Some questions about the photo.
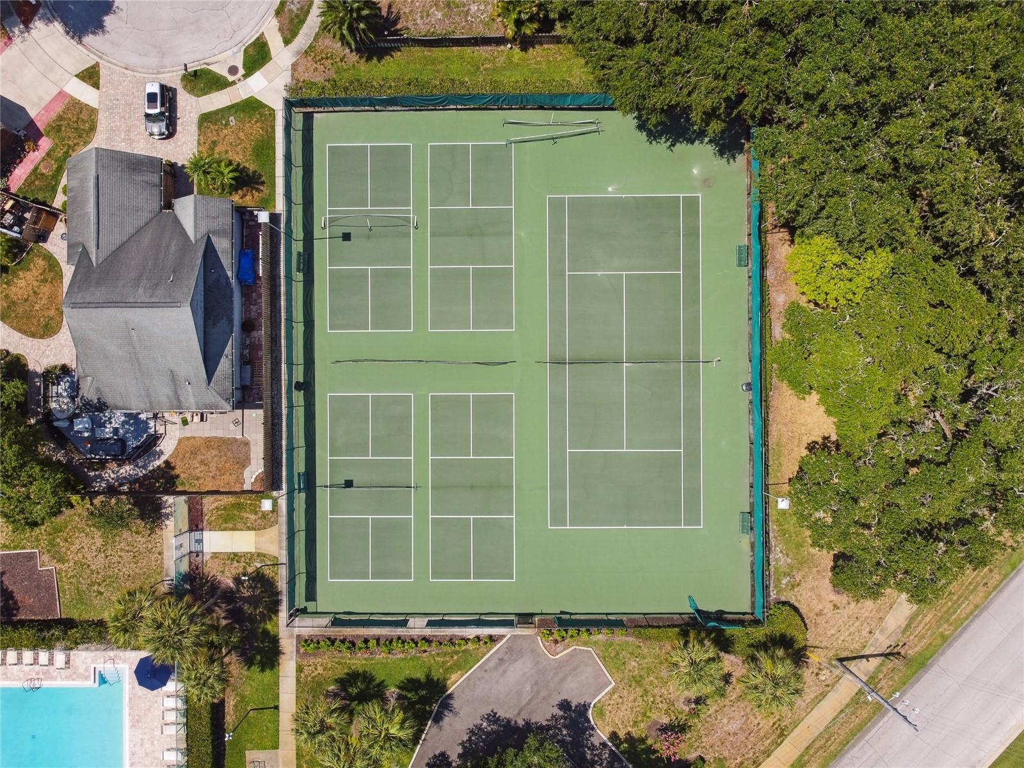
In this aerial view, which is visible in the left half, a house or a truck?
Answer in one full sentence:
Visible in the left half is a house.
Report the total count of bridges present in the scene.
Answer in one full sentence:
The photo contains no bridges.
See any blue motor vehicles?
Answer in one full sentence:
No, there isn't any blue motor vehicle down there.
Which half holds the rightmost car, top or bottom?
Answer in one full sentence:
The rightmost car sits in the top half of the picture.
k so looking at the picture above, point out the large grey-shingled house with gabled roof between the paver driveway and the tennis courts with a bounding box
[63,148,242,412]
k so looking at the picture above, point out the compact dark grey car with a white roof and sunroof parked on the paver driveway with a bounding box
[140,83,174,141]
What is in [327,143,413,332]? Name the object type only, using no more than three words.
sports court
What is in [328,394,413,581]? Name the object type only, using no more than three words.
sports court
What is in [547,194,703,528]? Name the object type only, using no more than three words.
tennis court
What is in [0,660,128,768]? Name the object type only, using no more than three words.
swimming pool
